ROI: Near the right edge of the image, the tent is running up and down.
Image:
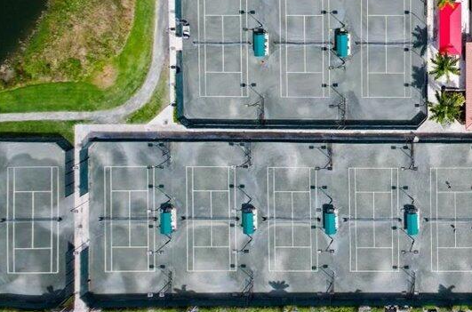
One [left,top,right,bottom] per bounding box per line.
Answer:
[439,2,462,54]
